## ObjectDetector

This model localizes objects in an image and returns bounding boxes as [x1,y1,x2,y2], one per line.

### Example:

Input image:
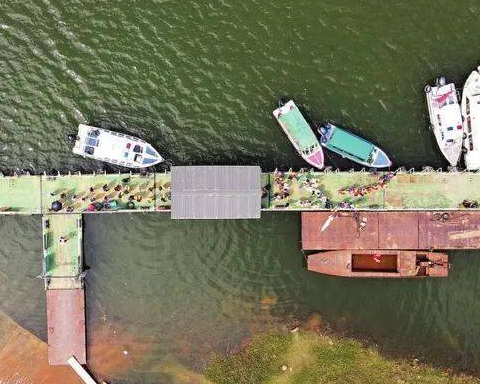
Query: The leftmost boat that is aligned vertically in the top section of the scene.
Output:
[422,81,465,166]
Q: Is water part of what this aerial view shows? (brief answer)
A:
Yes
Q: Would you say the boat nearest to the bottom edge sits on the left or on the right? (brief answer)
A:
right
